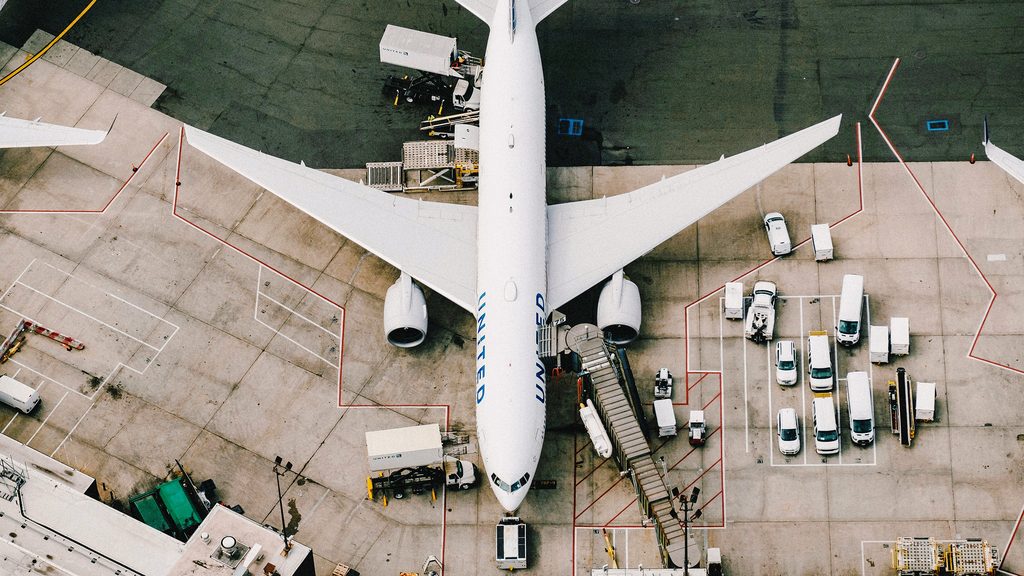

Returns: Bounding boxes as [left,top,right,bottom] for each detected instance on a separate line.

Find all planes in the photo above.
[0,112,118,148]
[984,117,1024,185]
[184,0,841,513]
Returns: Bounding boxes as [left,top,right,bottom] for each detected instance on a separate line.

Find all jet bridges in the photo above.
[539,310,700,574]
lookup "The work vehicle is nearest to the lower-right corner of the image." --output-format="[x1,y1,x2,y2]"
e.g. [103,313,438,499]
[944,539,1003,576]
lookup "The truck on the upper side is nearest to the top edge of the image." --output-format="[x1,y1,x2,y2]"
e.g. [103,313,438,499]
[381,20,484,115]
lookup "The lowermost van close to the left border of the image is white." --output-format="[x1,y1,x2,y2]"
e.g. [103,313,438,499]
[0,372,40,415]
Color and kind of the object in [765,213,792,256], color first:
white vehicle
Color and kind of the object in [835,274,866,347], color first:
white van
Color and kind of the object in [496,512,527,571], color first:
white work vehicle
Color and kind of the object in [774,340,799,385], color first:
white car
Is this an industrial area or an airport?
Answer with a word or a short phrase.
airport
